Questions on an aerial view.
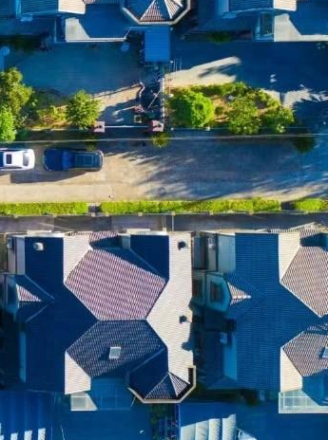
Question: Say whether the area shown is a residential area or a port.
residential area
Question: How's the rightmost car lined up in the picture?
from side to side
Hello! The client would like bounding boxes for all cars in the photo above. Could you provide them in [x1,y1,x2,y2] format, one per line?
[40,145,102,173]
[0,148,34,170]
